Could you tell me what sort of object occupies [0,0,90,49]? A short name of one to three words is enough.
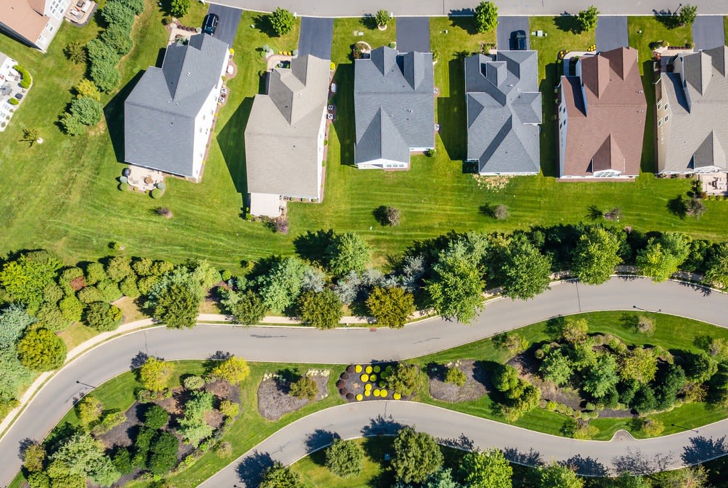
house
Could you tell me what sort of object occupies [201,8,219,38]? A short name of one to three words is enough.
car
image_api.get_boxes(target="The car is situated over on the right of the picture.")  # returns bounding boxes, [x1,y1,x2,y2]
[513,27,526,51]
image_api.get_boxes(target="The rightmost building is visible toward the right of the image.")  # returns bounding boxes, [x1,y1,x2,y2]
[656,42,728,180]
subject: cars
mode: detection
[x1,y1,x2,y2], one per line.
[513,27,526,51]
[201,8,219,38]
